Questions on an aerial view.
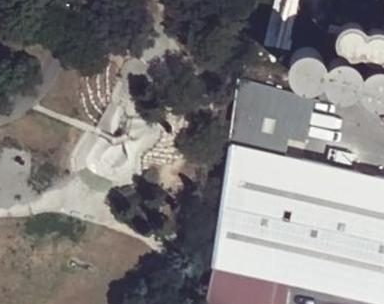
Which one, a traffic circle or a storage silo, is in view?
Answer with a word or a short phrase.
storage silo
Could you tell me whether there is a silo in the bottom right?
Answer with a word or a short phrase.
No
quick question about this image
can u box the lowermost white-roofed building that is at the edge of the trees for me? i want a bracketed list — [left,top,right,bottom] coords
[211,142,384,304]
